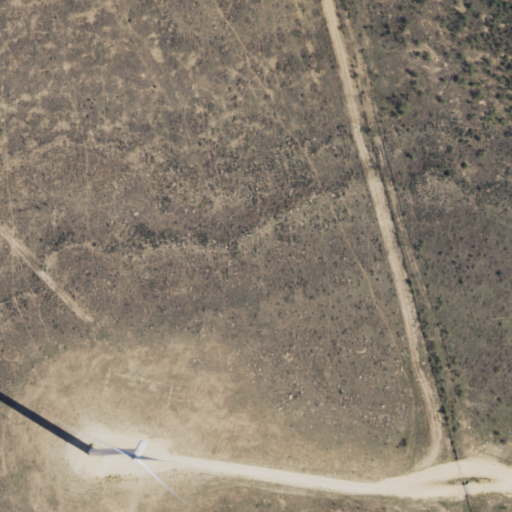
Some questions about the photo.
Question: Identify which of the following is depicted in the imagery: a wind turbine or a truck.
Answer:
wind turbine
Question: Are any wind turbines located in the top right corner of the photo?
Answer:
No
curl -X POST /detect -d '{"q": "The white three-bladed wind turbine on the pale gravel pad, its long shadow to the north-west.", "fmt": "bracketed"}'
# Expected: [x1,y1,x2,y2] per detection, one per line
[45,414,188,498]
